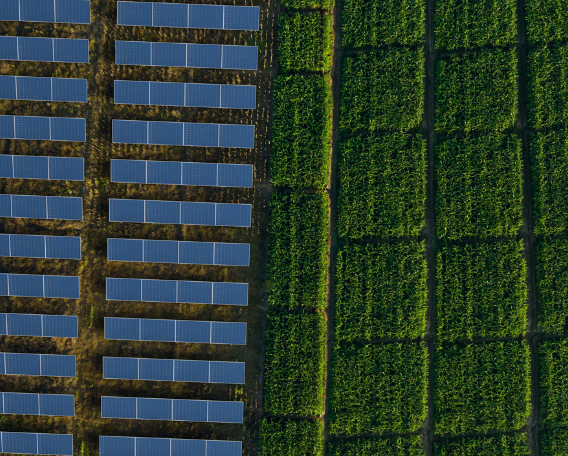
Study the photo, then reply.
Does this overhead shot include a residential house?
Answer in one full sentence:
No, I can see no residential house in this picture.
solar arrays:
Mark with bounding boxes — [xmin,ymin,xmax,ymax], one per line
[111,159,253,188]
[106,277,248,306]
[0,194,82,221]
[109,199,251,227]
[0,273,79,299]
[100,436,242,456]
[101,396,243,424]
[0,353,76,378]
[113,119,255,148]
[0,76,88,103]
[114,80,256,109]
[0,432,73,456]
[0,155,84,181]
[0,36,89,64]
[0,313,78,339]
[0,234,80,260]
[0,392,75,417]
[0,0,91,24]
[104,317,246,345]
[115,41,258,70]
[0,115,86,142]
[102,356,245,384]
[117,1,260,31]
[108,238,250,266]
